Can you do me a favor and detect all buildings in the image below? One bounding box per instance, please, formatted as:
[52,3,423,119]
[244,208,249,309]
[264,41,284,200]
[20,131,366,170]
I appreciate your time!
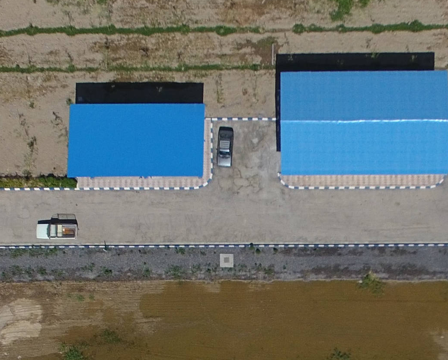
[67,104,207,179]
[281,70,448,176]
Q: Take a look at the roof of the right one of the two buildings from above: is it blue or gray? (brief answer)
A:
blue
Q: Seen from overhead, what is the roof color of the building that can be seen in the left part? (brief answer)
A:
blue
